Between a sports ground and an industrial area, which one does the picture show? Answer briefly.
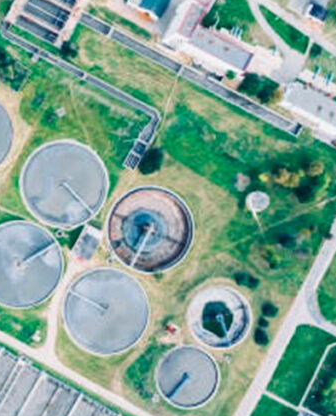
industrial area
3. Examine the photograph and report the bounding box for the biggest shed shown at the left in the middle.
[76,233,101,261]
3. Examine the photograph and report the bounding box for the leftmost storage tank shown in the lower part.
[0,221,63,309]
